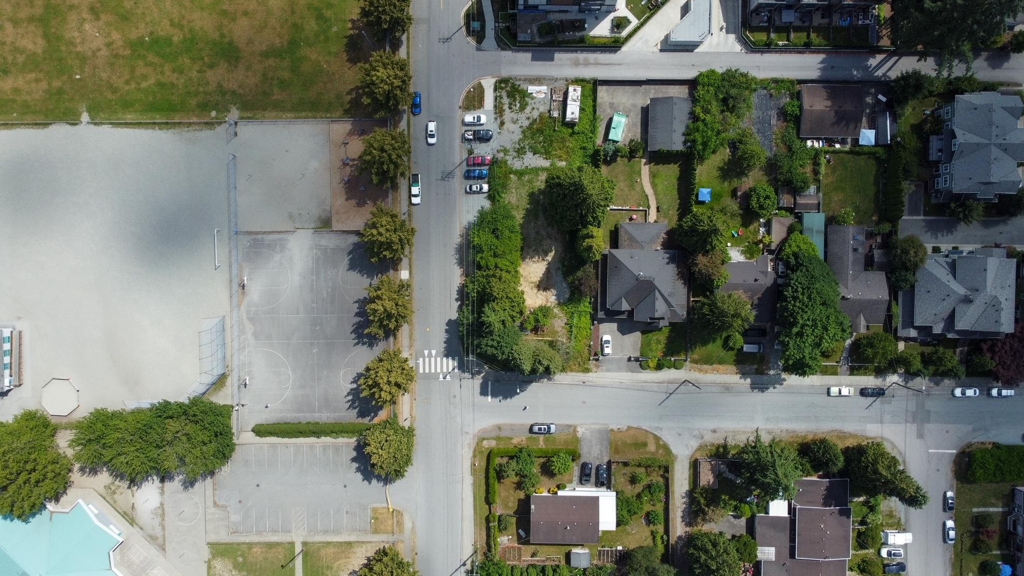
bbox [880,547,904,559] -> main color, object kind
white vehicle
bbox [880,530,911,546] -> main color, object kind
white vehicle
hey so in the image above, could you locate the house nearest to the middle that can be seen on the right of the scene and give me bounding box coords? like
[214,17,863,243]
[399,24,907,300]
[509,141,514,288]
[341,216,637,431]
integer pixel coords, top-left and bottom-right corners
[598,223,687,326]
